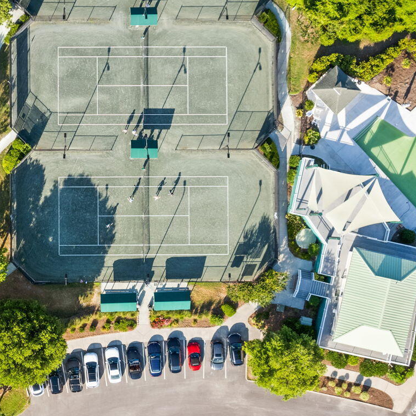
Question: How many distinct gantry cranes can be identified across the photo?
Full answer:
There are no gantry cranes in the image.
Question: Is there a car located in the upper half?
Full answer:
No, no car appears in the upper half.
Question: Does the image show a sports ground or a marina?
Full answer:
The picture captures a sports ground.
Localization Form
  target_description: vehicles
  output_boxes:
[105,346,122,384]
[126,347,142,380]
[228,333,245,366]
[45,360,63,395]
[83,353,99,389]
[210,340,226,372]
[29,369,44,397]
[66,357,84,395]
[166,338,183,373]
[187,341,203,372]
[146,342,163,377]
